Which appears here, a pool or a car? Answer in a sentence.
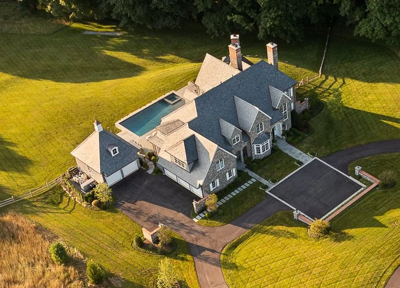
It is a pool that can be seen here.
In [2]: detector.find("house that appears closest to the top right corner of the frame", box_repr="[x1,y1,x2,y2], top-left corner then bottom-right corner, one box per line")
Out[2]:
[143,35,296,197]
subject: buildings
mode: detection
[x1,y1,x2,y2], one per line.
[68,115,141,186]
[143,35,296,197]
